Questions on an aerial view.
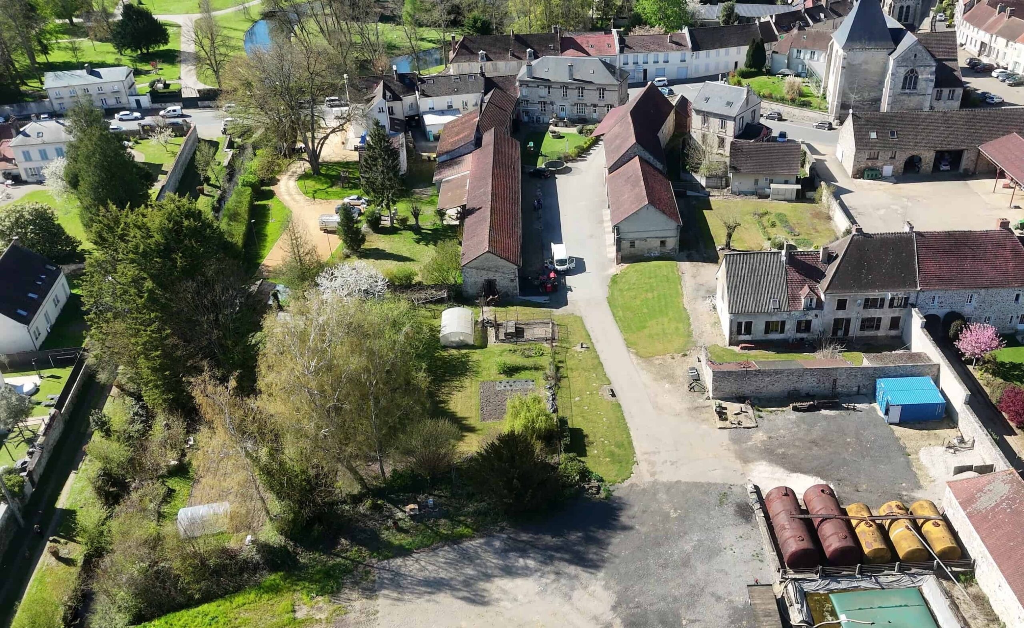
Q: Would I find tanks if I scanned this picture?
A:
Yes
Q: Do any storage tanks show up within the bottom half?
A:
Yes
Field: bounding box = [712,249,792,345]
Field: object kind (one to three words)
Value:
house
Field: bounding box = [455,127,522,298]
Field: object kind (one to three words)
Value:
barn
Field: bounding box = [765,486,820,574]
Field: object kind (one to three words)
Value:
storage tank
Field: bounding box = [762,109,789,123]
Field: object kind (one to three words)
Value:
car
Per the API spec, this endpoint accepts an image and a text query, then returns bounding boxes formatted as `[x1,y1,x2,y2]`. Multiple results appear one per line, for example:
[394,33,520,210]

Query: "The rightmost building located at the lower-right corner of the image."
[940,456,1024,628]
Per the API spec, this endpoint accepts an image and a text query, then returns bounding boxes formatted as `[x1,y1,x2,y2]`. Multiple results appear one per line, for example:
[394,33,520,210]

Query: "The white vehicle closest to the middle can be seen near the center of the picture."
[546,238,577,277]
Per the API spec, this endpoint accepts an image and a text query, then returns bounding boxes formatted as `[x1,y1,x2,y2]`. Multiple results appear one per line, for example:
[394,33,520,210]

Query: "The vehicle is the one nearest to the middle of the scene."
[539,275,558,293]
